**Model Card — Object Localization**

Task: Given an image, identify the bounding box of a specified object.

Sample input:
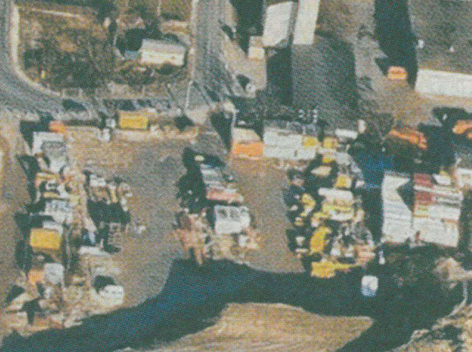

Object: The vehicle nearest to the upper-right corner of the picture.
[389,65,411,82]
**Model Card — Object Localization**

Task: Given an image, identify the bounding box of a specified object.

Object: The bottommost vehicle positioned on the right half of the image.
[307,261,362,284]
